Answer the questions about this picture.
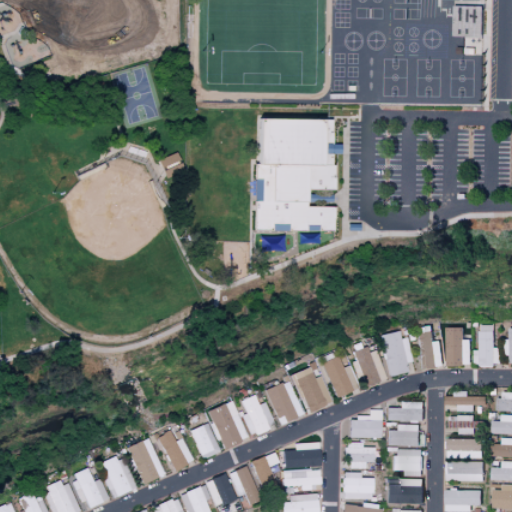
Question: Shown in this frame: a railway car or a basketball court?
basketball court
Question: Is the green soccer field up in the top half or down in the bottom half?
top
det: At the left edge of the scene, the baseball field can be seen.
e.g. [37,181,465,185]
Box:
[0,158,198,342]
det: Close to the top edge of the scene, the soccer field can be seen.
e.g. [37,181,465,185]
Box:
[200,0,326,92]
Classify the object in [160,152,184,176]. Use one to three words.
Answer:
building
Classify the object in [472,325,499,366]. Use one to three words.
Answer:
house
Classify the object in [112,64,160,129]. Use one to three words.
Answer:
basketball court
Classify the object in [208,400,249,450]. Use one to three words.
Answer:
house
